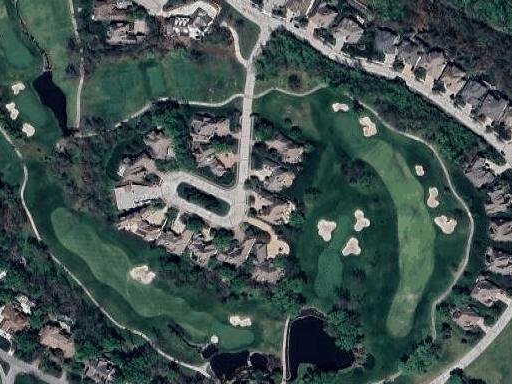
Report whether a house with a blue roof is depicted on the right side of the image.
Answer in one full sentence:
No, I see no house with a blue roof on the right side of the image.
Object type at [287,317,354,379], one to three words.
pond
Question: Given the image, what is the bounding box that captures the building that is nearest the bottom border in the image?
[81,361,118,384]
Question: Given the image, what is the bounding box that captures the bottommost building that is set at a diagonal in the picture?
[33,320,77,359]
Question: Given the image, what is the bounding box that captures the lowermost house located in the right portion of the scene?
[450,306,485,330]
